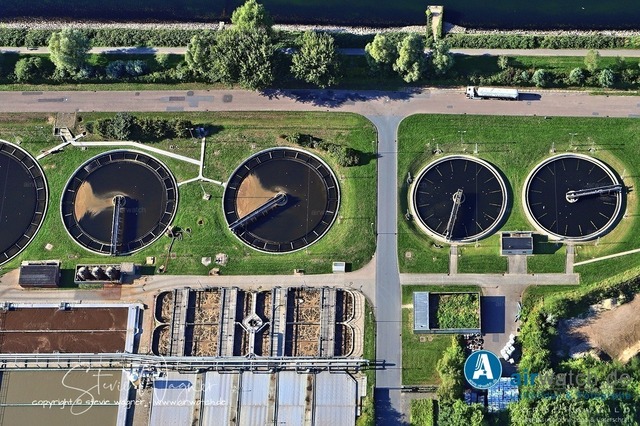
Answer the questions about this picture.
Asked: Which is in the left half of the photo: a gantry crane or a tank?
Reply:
tank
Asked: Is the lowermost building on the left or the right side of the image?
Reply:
right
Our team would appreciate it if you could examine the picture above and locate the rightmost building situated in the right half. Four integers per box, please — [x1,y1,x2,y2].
[499,229,535,255]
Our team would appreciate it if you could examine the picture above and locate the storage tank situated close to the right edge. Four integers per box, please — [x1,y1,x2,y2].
[524,152,624,242]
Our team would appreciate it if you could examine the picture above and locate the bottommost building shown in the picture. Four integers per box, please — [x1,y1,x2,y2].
[413,291,483,334]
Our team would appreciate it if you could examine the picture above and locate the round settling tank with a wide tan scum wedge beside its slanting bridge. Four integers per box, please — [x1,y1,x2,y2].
[222,147,339,254]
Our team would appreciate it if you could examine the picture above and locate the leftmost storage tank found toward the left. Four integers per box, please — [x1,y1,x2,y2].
[0,150,48,254]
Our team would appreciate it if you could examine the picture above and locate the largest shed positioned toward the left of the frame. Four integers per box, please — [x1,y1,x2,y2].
[18,261,61,287]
